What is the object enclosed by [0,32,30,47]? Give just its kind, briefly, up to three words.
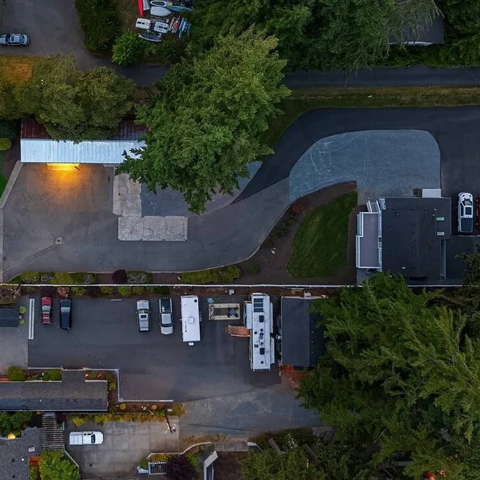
car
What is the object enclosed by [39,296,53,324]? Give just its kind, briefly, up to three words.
car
